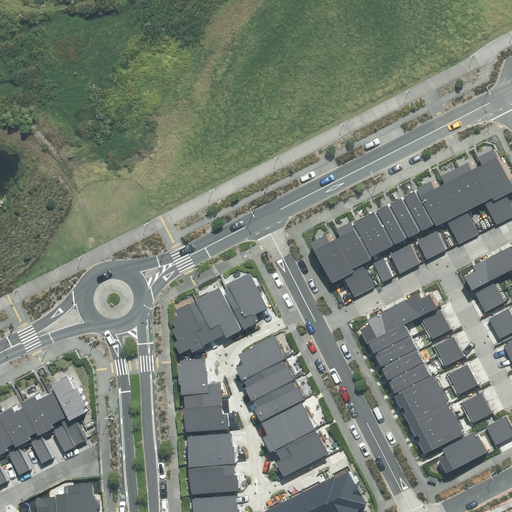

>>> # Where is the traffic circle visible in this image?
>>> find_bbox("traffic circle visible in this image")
[39,257,174,356]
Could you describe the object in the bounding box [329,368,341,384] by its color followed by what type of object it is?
white vehicle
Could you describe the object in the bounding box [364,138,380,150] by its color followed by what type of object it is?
white vehicle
